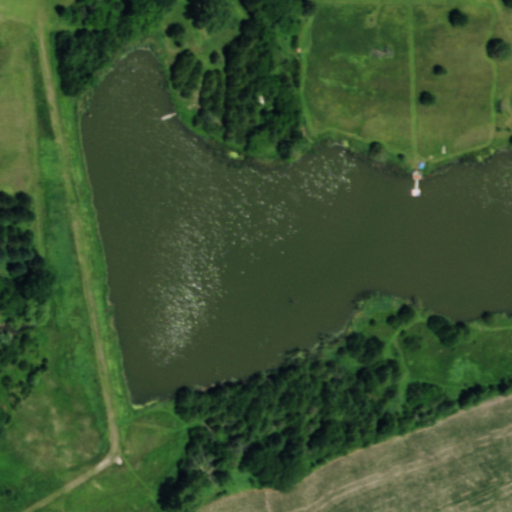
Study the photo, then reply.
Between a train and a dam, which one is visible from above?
dam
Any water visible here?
Yes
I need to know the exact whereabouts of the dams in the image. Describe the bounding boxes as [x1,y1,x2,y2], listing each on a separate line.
[27,30,134,444]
